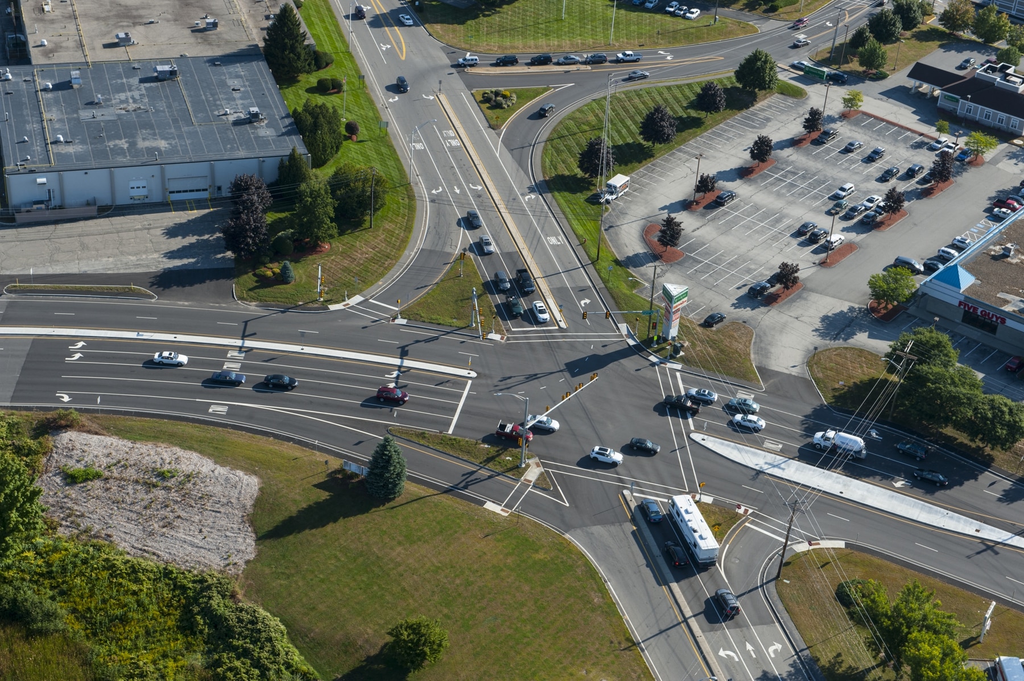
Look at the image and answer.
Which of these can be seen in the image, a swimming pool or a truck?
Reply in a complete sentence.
I can see a truck in this picture.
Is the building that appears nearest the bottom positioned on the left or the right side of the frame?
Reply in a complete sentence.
The building that appears nearest the bottom sits on the right side.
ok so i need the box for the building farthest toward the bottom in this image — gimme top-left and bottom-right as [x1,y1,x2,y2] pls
[906,207,1024,357]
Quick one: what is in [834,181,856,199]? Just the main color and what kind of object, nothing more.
white car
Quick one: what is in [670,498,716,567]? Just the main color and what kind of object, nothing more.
white camper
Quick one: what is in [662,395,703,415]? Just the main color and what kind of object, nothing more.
black vehicle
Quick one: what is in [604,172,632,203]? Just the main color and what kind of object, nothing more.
white truck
